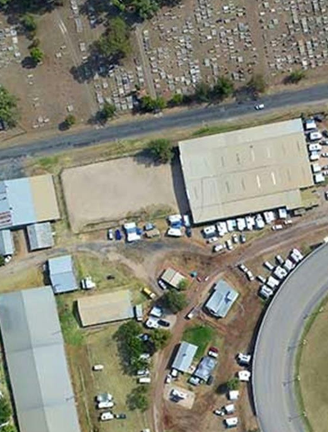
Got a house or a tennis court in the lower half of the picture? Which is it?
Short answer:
house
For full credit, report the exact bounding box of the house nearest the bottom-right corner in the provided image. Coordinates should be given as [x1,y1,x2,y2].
[193,354,219,382]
